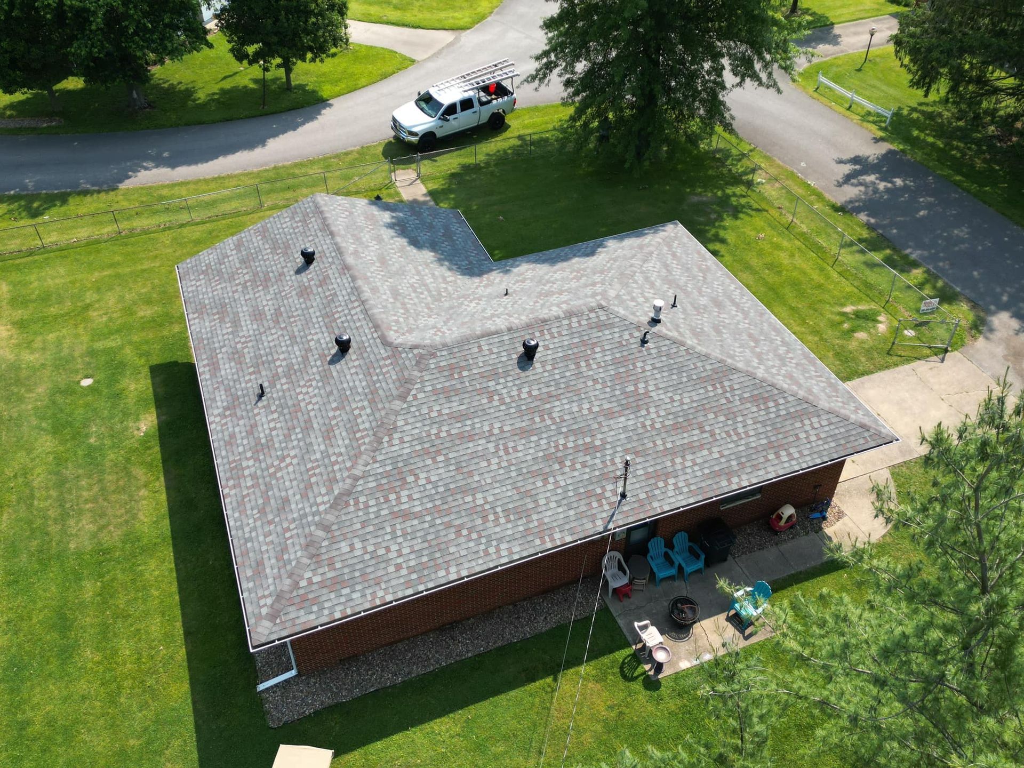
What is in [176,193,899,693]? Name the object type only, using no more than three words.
house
